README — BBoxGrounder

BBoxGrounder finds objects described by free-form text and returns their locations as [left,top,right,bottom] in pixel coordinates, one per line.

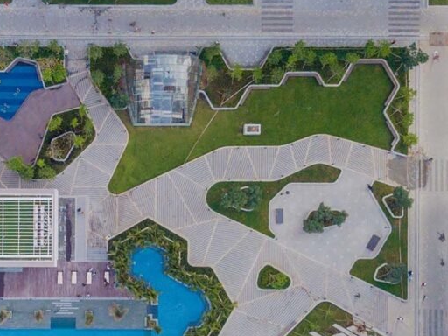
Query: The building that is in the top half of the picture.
[126,54,201,125]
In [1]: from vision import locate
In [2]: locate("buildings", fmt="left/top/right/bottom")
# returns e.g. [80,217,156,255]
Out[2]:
[126,54,201,125]
[0,189,58,271]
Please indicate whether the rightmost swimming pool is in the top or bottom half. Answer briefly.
bottom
